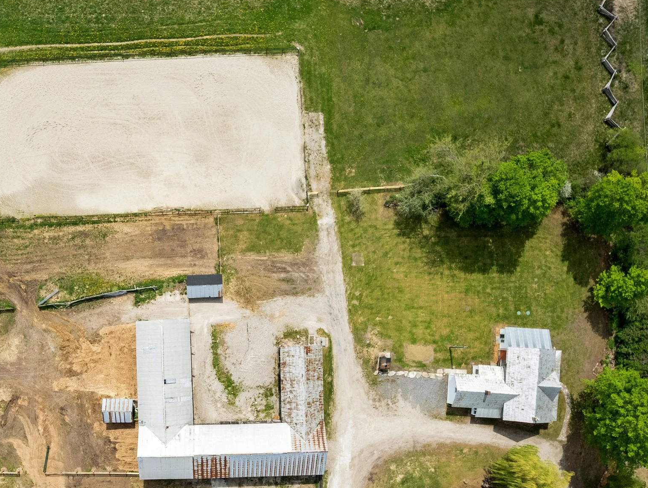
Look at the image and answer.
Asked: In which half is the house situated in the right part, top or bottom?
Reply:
bottom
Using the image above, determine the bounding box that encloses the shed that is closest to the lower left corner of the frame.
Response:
[101,398,138,423]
